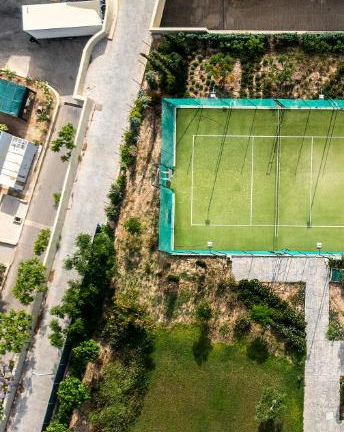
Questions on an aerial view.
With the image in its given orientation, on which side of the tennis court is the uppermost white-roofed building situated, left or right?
on its left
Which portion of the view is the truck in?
top left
